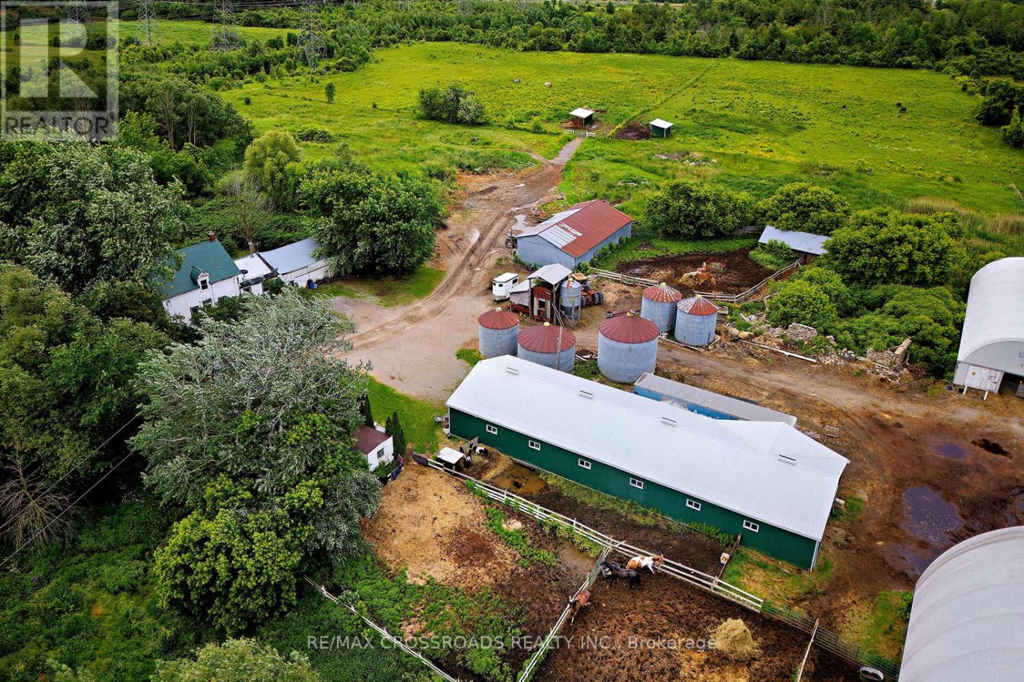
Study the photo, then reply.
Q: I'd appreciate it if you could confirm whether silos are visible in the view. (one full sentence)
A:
Yes, the frame does contain a silo.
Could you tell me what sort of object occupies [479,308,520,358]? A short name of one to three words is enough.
silo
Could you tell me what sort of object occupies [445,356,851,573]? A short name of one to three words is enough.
barn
